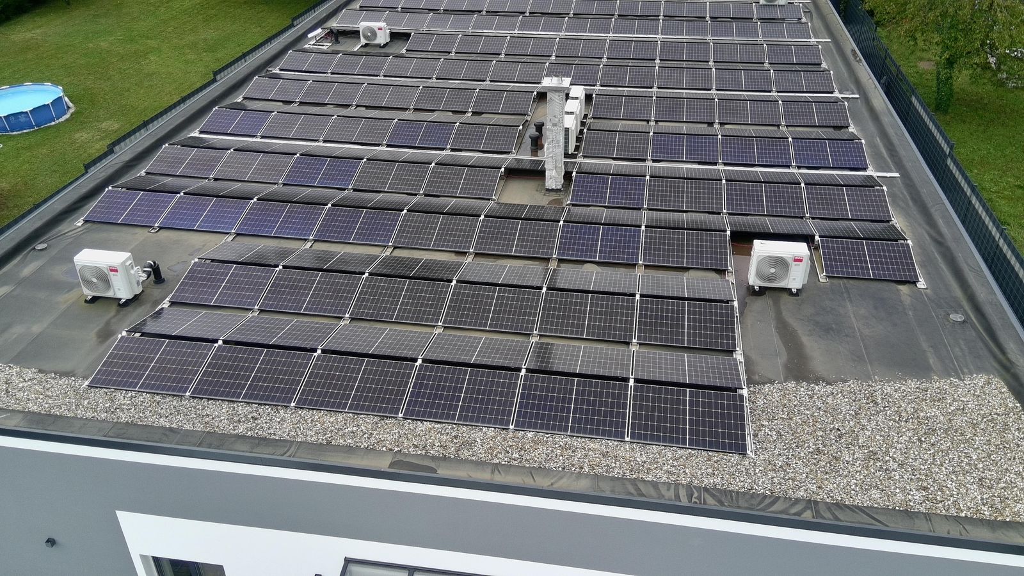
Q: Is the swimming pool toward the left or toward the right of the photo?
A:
left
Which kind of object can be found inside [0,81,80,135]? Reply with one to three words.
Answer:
swimming pool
